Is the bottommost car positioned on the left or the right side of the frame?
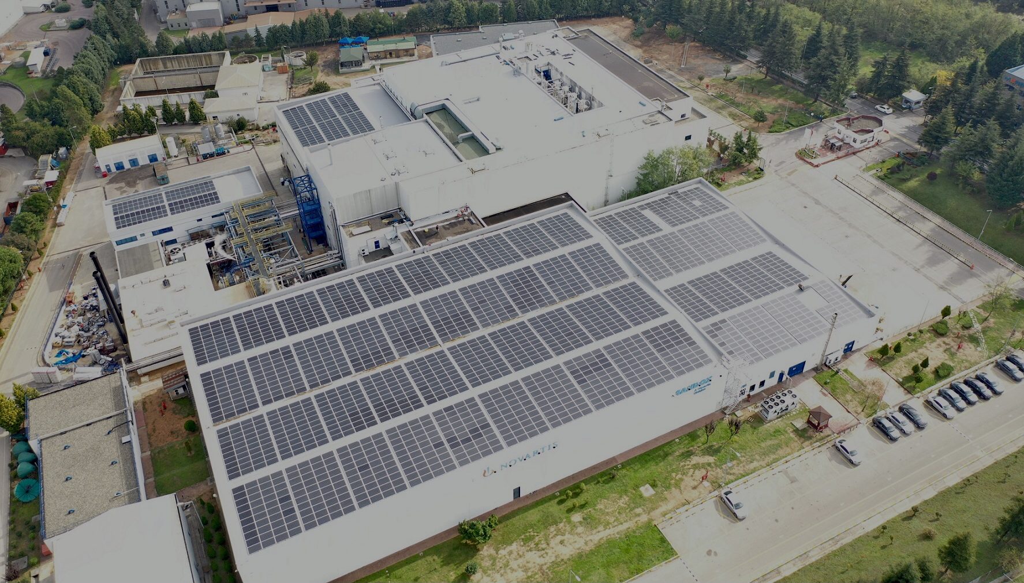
right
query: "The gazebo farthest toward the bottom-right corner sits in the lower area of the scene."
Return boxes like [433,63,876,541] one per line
[807,406,835,433]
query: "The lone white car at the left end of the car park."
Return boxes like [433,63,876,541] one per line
[719,491,749,521]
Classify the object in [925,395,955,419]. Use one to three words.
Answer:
car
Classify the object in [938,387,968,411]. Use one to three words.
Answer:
car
